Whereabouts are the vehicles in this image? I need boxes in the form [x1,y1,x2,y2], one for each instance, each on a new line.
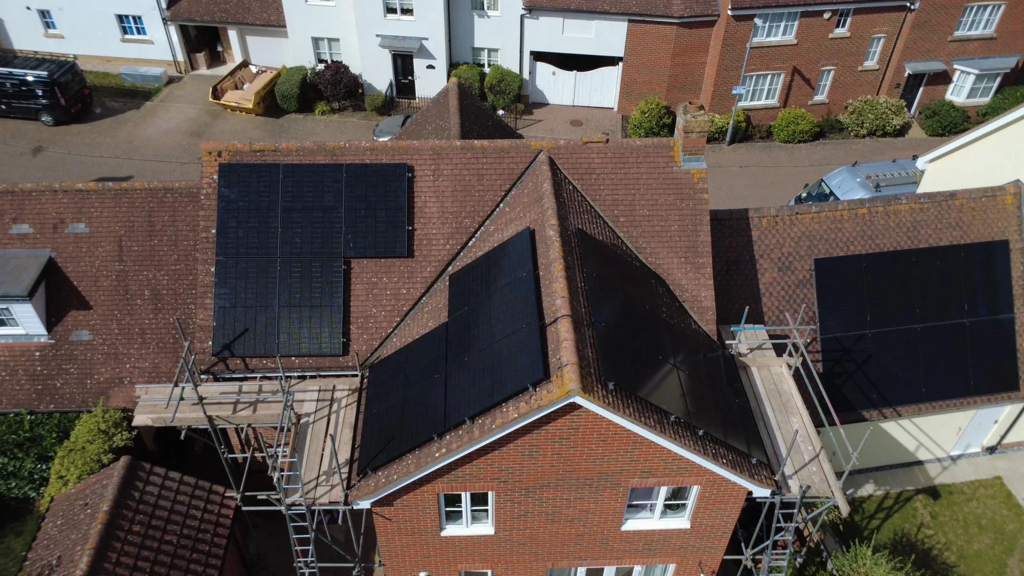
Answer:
[0,57,96,129]
[772,152,923,203]
[373,105,425,144]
